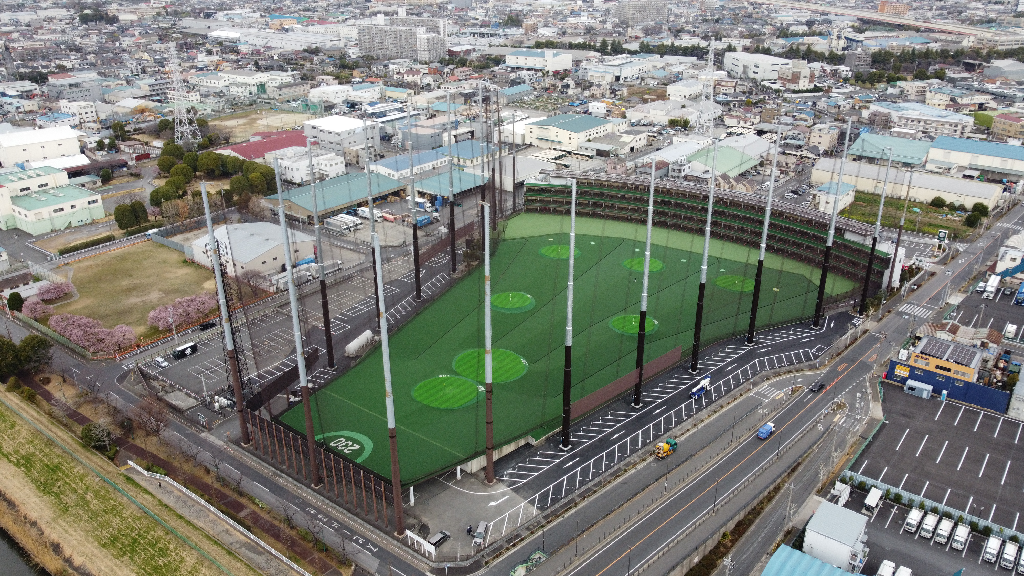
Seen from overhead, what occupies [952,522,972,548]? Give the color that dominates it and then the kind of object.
white vehicle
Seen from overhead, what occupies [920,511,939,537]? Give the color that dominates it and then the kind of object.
white vehicle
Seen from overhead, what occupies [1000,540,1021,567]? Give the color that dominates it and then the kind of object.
white truck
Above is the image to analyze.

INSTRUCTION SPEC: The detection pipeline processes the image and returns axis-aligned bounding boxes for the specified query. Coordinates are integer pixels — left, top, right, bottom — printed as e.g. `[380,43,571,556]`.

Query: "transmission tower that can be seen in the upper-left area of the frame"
[169,42,203,144]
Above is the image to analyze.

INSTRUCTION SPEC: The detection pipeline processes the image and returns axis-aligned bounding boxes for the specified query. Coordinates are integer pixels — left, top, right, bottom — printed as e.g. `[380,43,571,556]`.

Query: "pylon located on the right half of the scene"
[686,37,722,136]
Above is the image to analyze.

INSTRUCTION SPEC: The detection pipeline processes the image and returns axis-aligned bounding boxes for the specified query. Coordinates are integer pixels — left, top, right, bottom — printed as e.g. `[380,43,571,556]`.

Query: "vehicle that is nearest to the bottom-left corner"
[156,355,168,368]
